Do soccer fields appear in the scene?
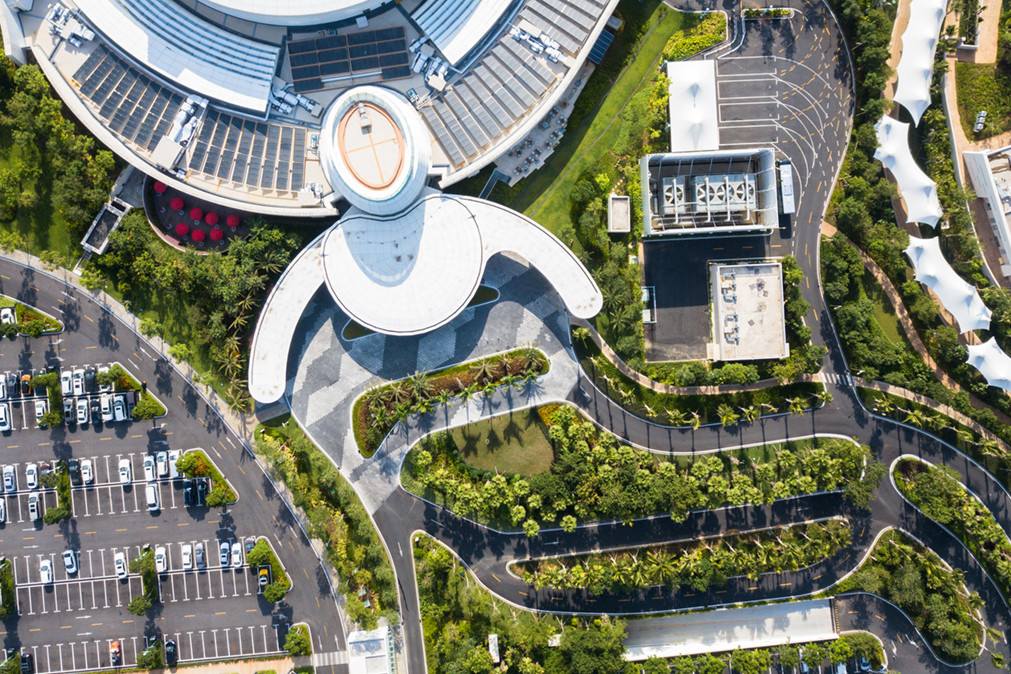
No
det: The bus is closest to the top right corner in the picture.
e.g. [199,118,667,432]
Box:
[774,164,795,216]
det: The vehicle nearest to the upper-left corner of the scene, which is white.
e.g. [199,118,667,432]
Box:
[2,303,17,327]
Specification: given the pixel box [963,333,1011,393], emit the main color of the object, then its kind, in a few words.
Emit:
white tent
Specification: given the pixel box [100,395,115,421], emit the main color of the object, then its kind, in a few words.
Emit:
white car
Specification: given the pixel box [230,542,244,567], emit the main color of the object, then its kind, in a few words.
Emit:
white vehicle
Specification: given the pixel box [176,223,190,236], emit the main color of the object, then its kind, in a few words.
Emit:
red umbrella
